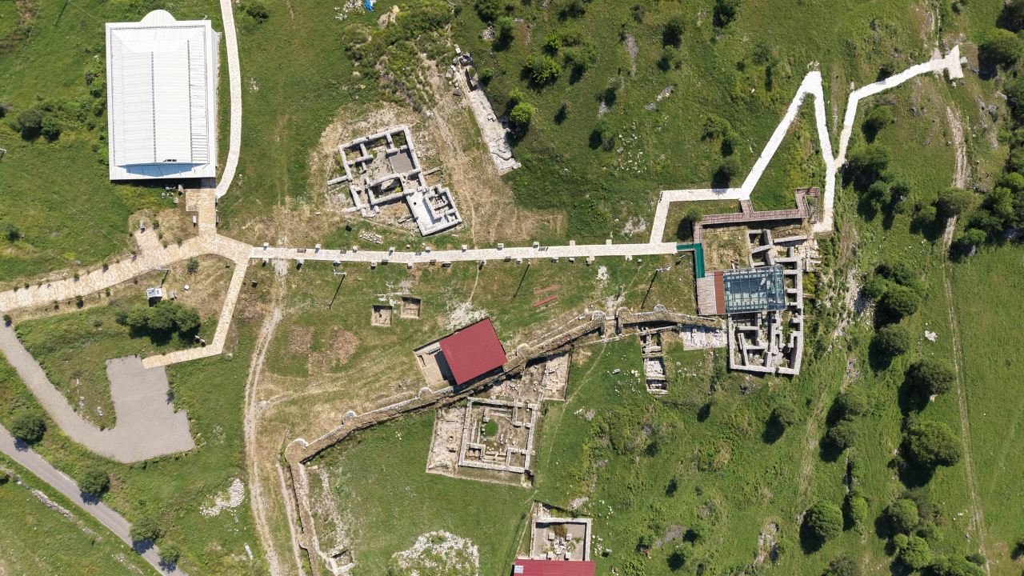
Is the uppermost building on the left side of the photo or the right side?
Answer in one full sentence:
The uppermost building appears in the left half of the scene.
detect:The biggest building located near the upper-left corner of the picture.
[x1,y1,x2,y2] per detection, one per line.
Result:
[106,9,222,188]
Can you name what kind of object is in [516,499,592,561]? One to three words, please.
building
